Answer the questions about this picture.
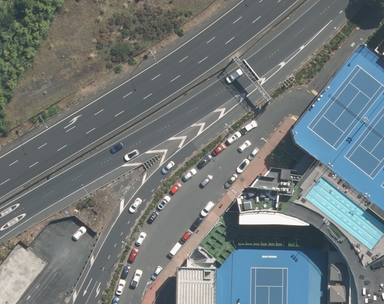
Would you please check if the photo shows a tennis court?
Yes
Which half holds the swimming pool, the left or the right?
right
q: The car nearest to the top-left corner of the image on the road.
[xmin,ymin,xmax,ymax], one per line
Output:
[109,141,125,154]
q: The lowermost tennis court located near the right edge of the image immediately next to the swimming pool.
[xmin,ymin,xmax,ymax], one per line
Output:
[344,108,384,180]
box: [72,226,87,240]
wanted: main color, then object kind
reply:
white car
